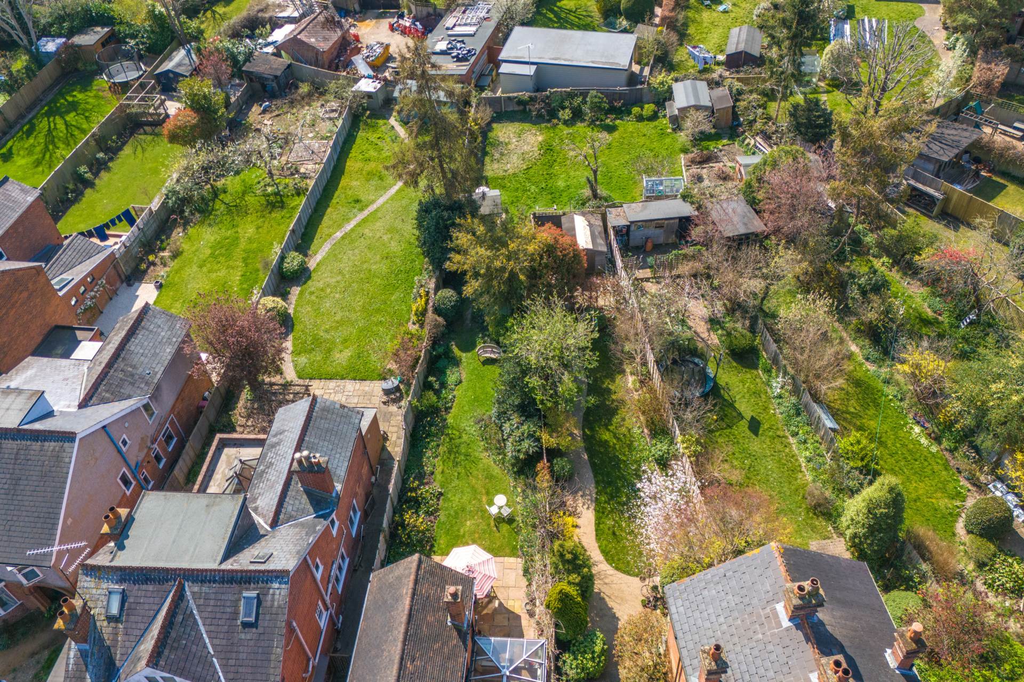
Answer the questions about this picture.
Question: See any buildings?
Yes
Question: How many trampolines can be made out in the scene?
2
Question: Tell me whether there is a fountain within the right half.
No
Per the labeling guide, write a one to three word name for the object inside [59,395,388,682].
house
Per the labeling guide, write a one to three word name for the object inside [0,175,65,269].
house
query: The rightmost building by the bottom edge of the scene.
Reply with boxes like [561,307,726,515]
[662,541,929,682]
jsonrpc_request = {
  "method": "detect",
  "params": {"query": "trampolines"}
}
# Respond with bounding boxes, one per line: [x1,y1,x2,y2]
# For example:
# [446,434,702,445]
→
[94,43,148,91]
[660,335,717,401]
